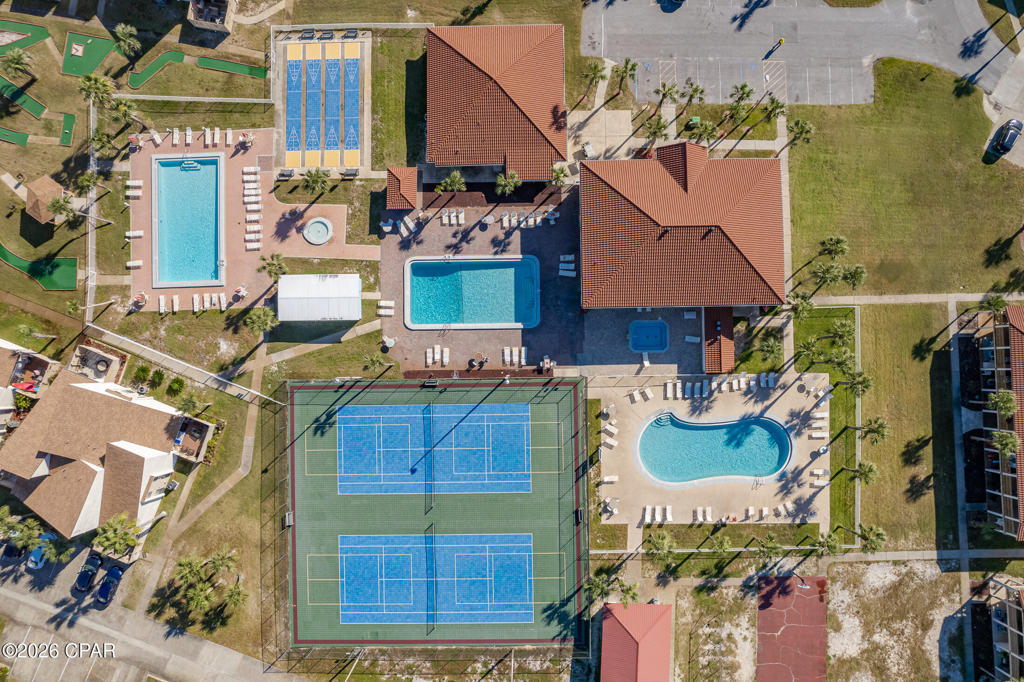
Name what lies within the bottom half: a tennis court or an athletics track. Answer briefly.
tennis court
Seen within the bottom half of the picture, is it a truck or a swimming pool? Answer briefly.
swimming pool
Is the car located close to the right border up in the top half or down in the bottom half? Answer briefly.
top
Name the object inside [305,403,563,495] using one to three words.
tennis court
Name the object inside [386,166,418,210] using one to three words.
shed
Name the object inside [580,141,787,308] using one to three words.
building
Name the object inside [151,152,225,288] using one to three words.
swimming pool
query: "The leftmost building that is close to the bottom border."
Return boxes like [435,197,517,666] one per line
[598,594,672,682]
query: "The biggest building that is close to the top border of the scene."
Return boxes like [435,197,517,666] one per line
[423,24,568,183]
